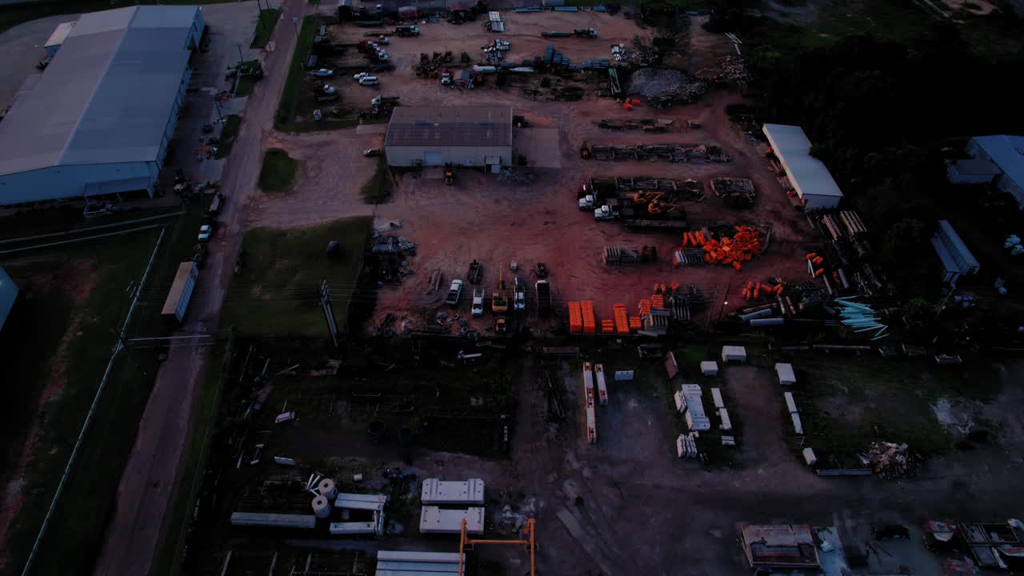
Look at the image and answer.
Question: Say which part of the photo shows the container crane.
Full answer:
The container crane is located in the bottom region of the scene.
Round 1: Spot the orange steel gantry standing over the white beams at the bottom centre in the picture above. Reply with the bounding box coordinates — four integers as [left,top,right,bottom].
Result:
[458,515,536,576]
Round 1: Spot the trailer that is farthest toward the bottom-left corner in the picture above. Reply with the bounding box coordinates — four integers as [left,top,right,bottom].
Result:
[158,259,199,329]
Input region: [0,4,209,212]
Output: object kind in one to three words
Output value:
warehouse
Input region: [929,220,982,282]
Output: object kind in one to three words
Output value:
trailer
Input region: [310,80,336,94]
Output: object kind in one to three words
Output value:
vehicle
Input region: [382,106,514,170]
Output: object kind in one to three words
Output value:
building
